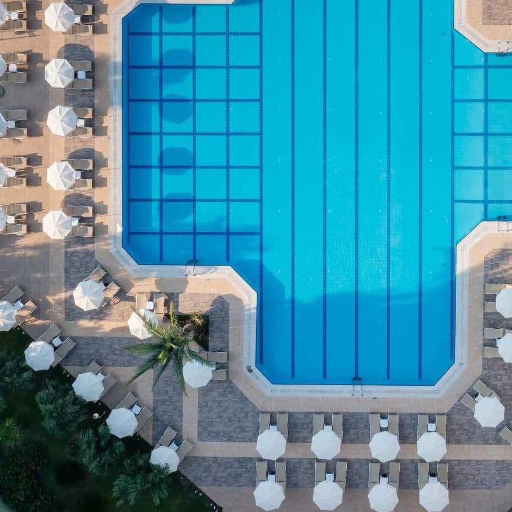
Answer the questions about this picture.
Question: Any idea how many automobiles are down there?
0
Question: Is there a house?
No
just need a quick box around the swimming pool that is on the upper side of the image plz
[122,0,512,386]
